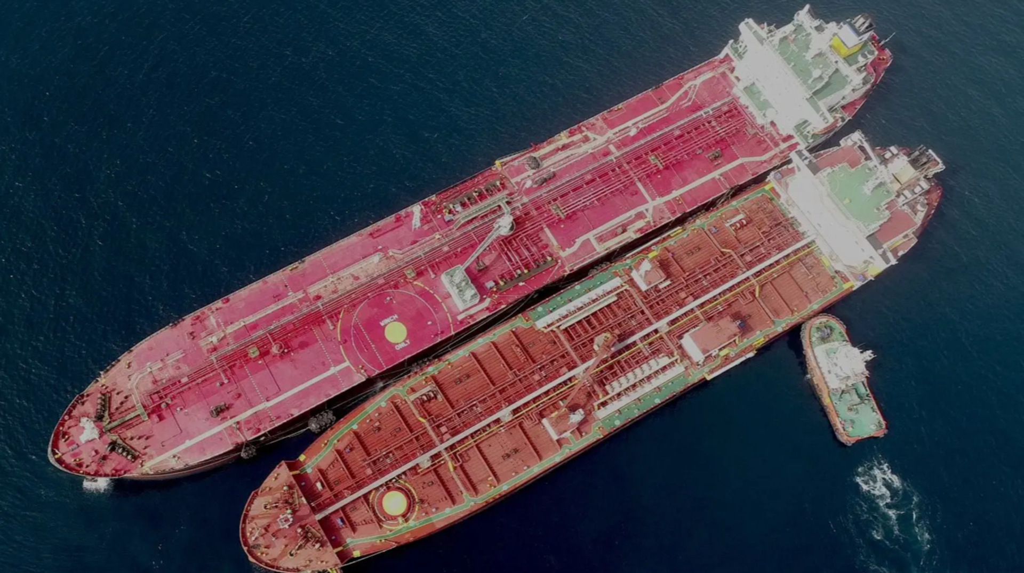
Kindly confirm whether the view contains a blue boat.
No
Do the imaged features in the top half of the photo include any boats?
Yes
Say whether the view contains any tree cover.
No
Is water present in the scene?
Yes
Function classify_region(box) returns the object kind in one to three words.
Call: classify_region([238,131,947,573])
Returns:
ship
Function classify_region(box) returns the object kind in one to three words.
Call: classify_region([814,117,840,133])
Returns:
boat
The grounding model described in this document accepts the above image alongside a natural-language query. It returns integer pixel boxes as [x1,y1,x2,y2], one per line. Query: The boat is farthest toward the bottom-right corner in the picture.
[799,314,886,443]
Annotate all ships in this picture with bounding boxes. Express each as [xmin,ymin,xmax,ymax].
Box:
[43,3,894,481]
[238,131,947,573]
